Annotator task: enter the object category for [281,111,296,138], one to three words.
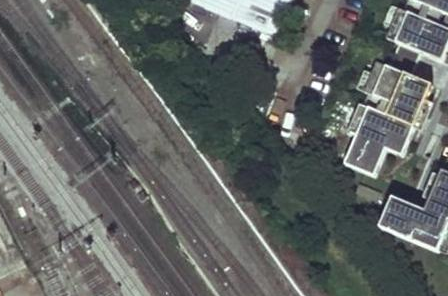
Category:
vehicle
